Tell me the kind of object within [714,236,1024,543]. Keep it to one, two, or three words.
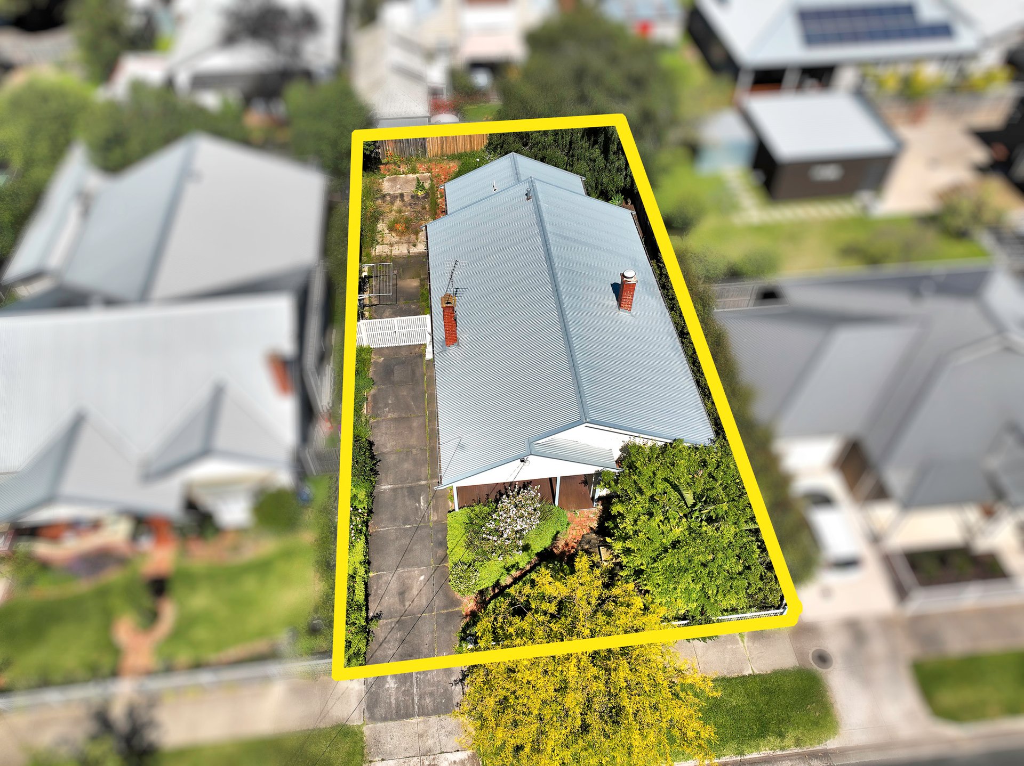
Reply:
house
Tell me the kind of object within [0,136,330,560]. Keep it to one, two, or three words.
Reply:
house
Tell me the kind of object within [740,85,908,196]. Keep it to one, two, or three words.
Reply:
shed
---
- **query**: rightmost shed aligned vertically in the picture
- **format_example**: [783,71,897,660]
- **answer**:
[980,96,1024,189]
